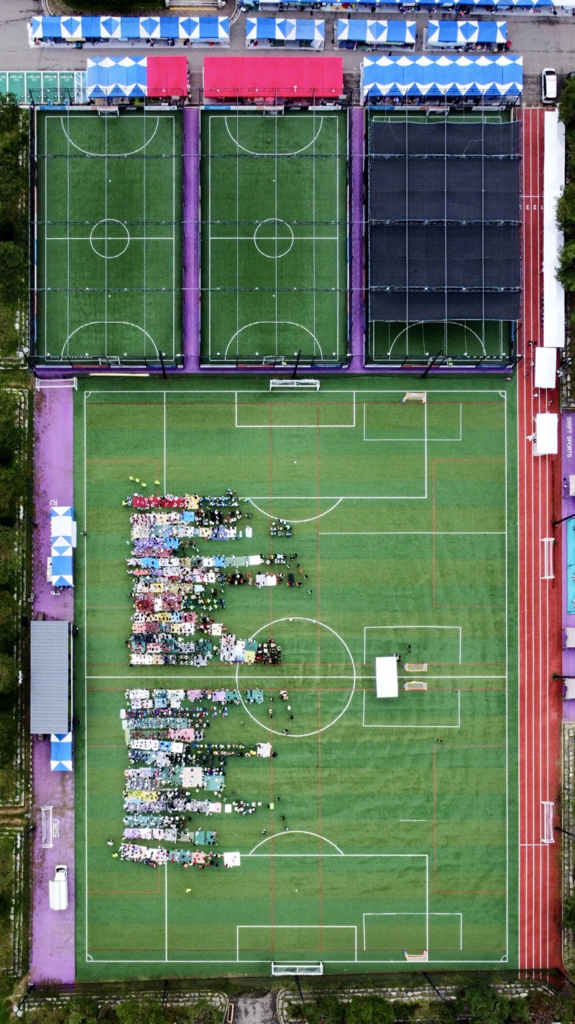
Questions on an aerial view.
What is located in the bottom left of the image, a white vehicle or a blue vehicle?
white vehicle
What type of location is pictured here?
sports ground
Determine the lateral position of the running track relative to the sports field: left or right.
right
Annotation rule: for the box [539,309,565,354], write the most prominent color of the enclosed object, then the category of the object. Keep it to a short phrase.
white tent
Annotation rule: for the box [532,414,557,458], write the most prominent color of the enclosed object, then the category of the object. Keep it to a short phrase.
white tent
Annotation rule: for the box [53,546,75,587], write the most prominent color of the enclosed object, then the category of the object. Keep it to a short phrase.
blue tent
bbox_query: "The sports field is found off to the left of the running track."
[75,373,518,983]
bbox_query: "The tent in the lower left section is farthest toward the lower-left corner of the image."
[50,731,75,771]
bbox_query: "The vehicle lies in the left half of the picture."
[50,863,69,909]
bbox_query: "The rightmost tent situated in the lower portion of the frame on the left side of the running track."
[374,656,397,697]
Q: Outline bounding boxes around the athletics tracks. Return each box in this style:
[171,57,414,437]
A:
[518,108,562,980]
